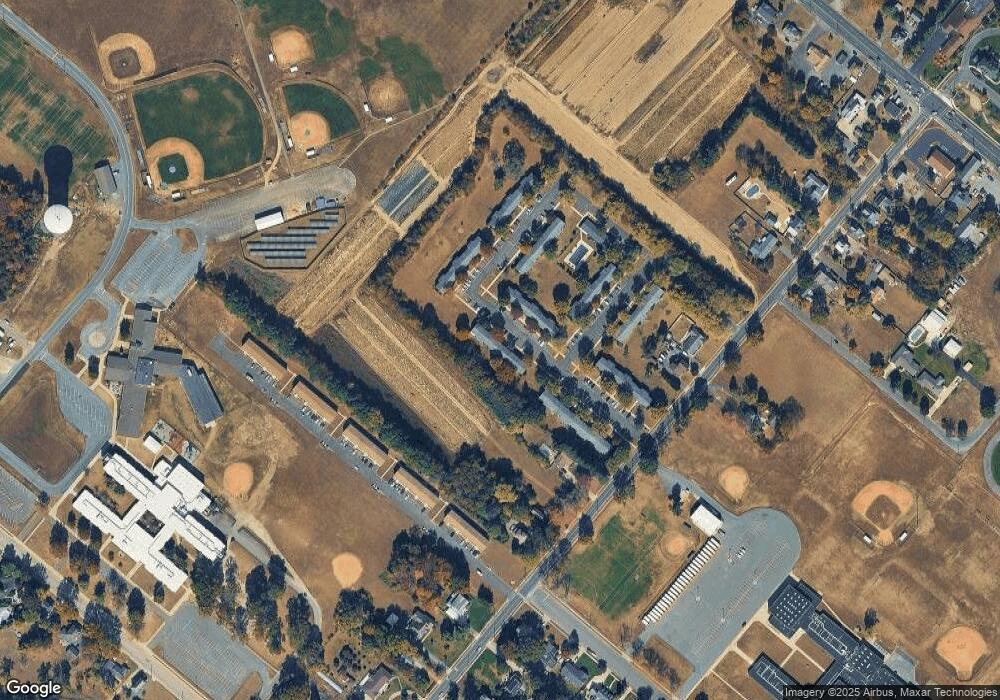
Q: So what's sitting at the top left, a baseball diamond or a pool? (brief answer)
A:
baseball diamond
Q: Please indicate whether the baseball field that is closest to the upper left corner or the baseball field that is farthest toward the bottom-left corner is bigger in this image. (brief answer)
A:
the baseball field that is closest to the upper left corner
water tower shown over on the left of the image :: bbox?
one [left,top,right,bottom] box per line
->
[44,204,72,233]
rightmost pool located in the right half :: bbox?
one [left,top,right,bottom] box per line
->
[909,325,926,343]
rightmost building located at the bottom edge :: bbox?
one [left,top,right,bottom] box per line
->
[749,581,928,700]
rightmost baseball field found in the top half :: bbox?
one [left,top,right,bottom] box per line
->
[371,78,403,111]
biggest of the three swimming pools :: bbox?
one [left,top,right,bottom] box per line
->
[564,241,594,269]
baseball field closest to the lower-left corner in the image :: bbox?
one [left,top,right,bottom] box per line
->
[226,463,252,496]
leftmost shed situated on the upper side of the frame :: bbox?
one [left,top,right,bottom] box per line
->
[96,163,116,193]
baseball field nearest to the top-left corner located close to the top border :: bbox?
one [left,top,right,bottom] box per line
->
[100,33,154,86]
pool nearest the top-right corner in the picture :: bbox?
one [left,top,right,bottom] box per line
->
[744,184,761,199]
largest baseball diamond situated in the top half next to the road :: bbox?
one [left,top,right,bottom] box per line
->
[132,72,268,193]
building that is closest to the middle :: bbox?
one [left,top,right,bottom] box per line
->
[471,323,527,375]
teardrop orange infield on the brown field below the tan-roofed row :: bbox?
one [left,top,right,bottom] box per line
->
[335,554,362,587]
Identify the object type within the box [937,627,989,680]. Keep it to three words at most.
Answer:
baseball field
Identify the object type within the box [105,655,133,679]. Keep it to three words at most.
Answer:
house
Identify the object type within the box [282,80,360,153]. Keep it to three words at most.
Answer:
baseball field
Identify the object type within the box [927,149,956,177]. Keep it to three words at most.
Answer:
building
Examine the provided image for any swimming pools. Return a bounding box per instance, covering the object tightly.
[909,325,926,343]
[744,184,761,199]
[564,241,594,269]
